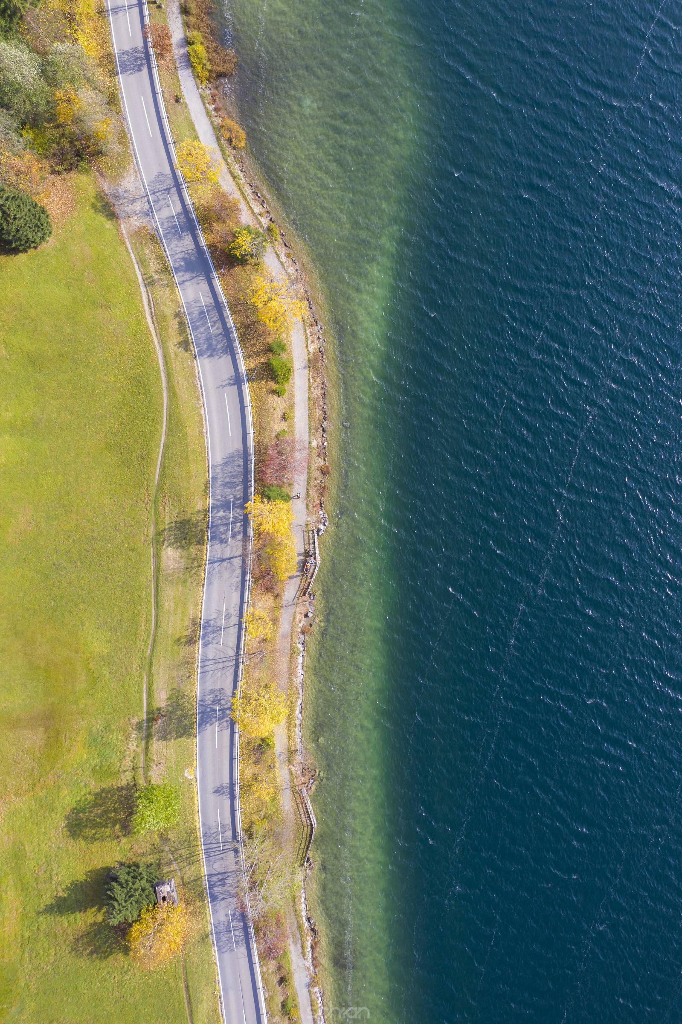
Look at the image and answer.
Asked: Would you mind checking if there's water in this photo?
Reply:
Yes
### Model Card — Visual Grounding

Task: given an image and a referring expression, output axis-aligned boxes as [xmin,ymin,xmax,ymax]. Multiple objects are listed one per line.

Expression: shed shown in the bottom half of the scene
[156,872,181,905]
